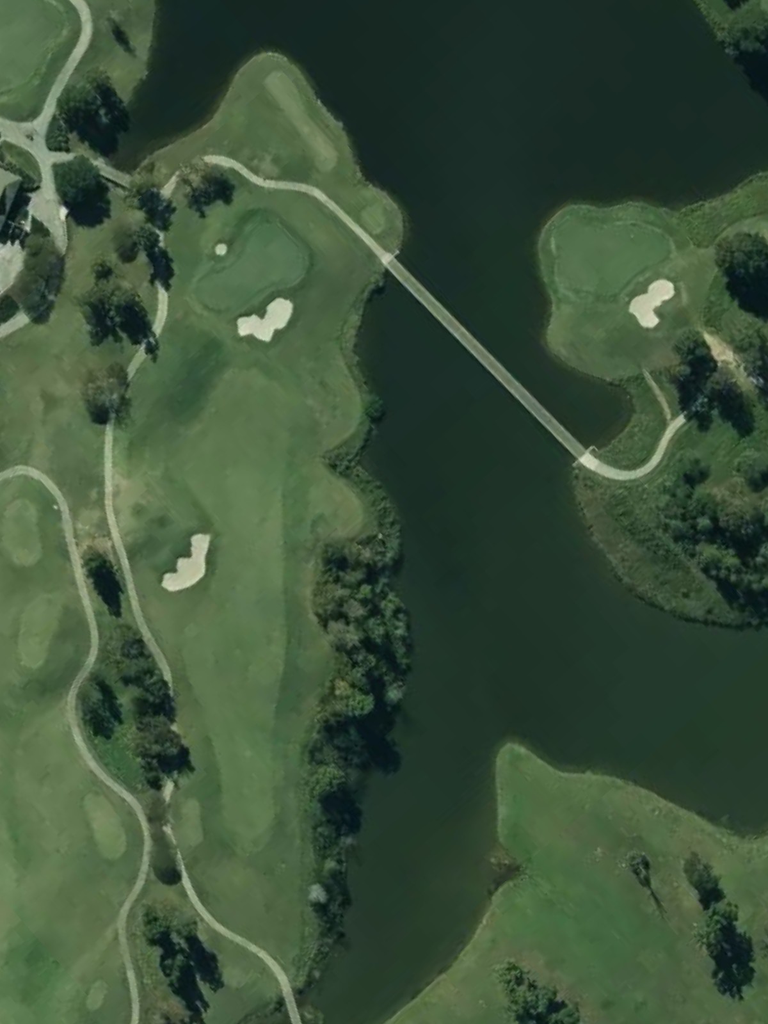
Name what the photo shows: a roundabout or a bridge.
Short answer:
bridge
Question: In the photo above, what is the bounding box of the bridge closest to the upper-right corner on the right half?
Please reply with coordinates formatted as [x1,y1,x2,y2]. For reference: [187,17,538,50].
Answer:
[378,246,602,469]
